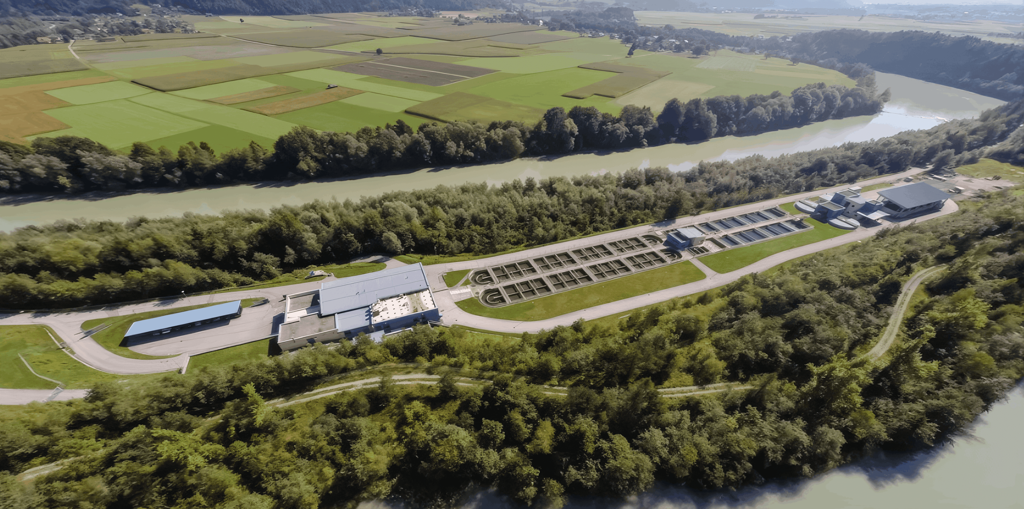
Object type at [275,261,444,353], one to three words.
building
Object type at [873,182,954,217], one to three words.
building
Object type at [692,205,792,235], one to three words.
storage tank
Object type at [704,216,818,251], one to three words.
storage tank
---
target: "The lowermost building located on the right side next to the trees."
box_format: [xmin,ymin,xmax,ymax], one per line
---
[666,226,706,249]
